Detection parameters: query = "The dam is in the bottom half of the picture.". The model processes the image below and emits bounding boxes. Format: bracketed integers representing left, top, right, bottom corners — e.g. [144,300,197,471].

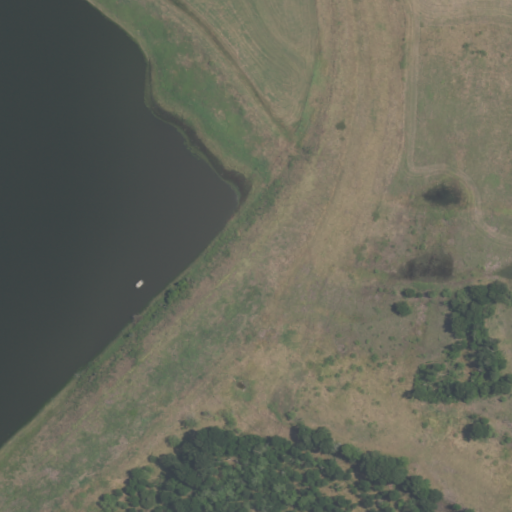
[0,140,290,512]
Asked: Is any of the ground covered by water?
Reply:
Yes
